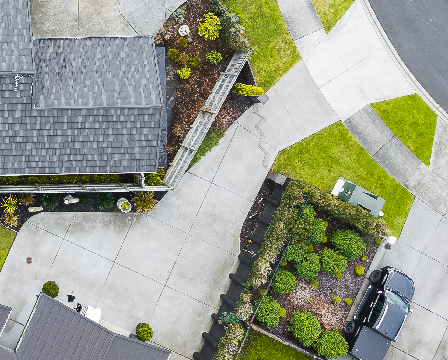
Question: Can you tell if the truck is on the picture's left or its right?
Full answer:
The truck is on the right side of the image.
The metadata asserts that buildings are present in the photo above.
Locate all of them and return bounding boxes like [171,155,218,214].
[0,0,164,179]
[0,292,173,360]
